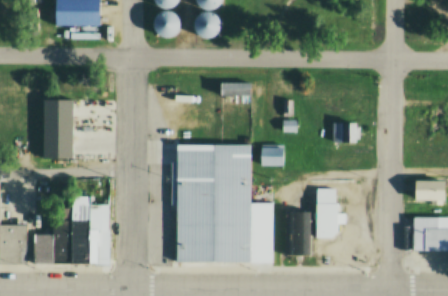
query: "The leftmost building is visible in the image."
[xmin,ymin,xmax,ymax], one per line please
[0,224,26,264]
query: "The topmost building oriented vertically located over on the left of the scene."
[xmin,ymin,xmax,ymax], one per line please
[43,100,72,159]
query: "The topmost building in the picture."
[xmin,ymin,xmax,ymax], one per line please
[55,0,100,26]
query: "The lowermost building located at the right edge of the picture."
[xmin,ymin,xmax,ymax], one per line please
[414,230,448,252]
